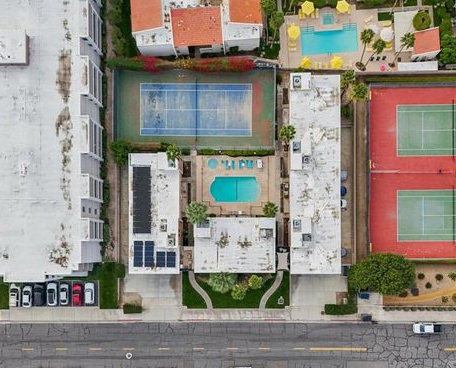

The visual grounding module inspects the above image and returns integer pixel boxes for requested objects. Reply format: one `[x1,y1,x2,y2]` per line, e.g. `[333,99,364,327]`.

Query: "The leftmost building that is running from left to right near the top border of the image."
[130,0,266,61]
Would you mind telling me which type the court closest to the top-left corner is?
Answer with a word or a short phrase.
tennis court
